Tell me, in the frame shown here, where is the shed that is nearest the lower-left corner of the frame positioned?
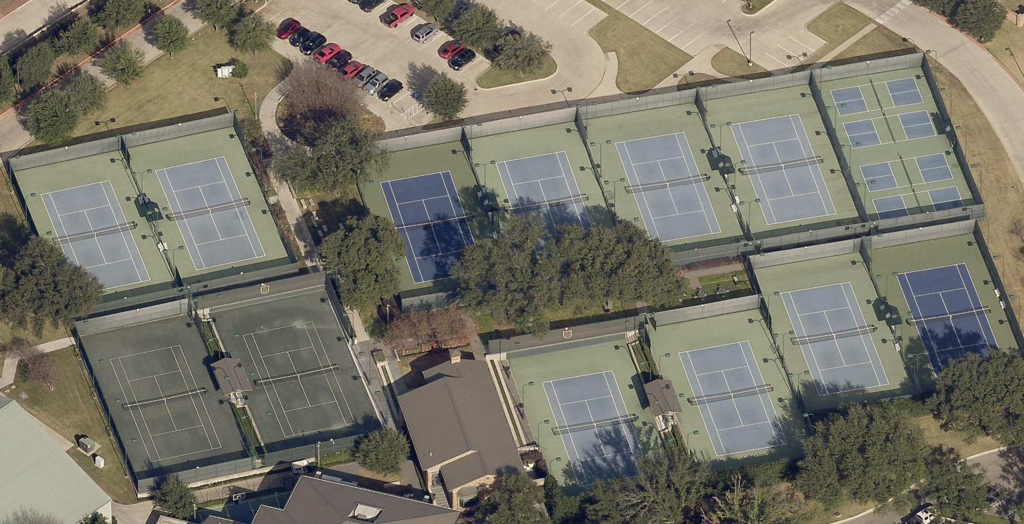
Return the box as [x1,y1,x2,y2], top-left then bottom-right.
[0,393,112,524]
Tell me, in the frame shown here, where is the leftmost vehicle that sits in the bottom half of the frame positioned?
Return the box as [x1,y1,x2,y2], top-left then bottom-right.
[290,456,314,475]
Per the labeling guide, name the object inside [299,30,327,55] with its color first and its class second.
black car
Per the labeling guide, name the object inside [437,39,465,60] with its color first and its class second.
red car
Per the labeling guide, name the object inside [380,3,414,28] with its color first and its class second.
red truck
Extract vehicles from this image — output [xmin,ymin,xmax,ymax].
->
[410,21,439,44]
[344,0,366,10]
[377,79,405,101]
[288,27,313,46]
[448,45,477,70]
[290,456,314,475]
[327,48,354,70]
[380,3,414,28]
[353,62,381,86]
[276,17,304,39]
[363,70,392,95]
[437,39,465,60]
[482,40,510,60]
[339,60,367,78]
[299,30,327,55]
[313,43,342,64]
[903,508,939,524]
[358,0,385,14]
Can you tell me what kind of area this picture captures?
sports ground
